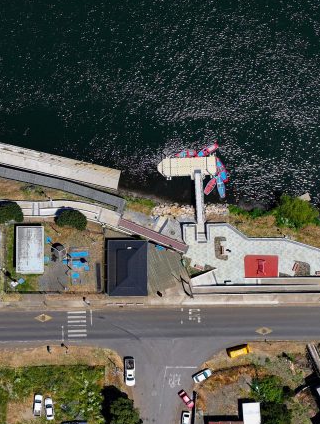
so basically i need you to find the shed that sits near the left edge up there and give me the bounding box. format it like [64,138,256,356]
[16,226,44,273]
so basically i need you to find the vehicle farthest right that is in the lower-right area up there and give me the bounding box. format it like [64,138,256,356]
[227,345,252,360]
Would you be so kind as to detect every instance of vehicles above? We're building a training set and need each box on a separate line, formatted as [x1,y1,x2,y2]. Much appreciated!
[32,395,42,417]
[44,398,54,421]
[192,369,214,384]
[178,389,195,410]
[227,345,252,360]
[125,358,136,387]
[182,412,191,424]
